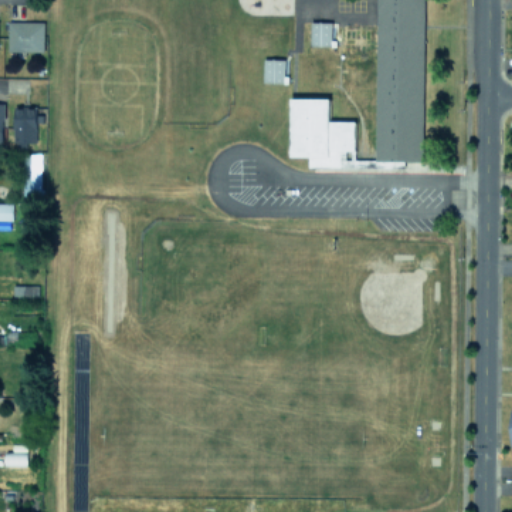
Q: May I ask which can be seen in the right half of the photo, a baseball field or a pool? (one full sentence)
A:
There is a baseball field in the right half of the photo.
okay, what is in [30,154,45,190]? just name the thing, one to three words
shed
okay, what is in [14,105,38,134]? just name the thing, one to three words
house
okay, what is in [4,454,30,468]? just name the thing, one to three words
house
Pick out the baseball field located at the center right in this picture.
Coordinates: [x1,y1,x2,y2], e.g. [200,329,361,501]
[360,270,427,336]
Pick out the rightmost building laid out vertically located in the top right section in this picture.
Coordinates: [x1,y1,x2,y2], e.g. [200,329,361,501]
[378,0,426,162]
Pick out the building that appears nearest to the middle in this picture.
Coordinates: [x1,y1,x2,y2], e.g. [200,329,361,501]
[290,100,358,169]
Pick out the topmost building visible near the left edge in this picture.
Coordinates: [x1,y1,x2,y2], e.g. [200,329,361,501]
[9,22,46,53]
